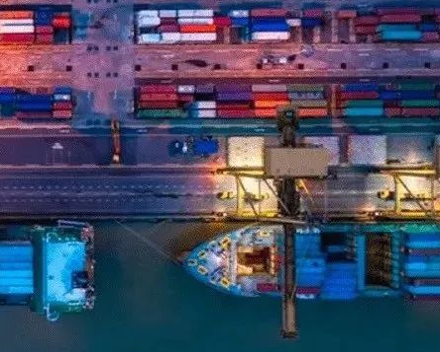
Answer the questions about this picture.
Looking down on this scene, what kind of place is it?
port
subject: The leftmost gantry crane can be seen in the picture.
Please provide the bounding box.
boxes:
[216,108,330,342]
